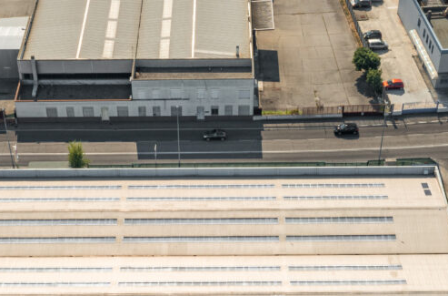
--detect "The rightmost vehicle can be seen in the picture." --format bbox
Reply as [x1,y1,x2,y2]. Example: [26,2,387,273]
[387,77,405,90]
